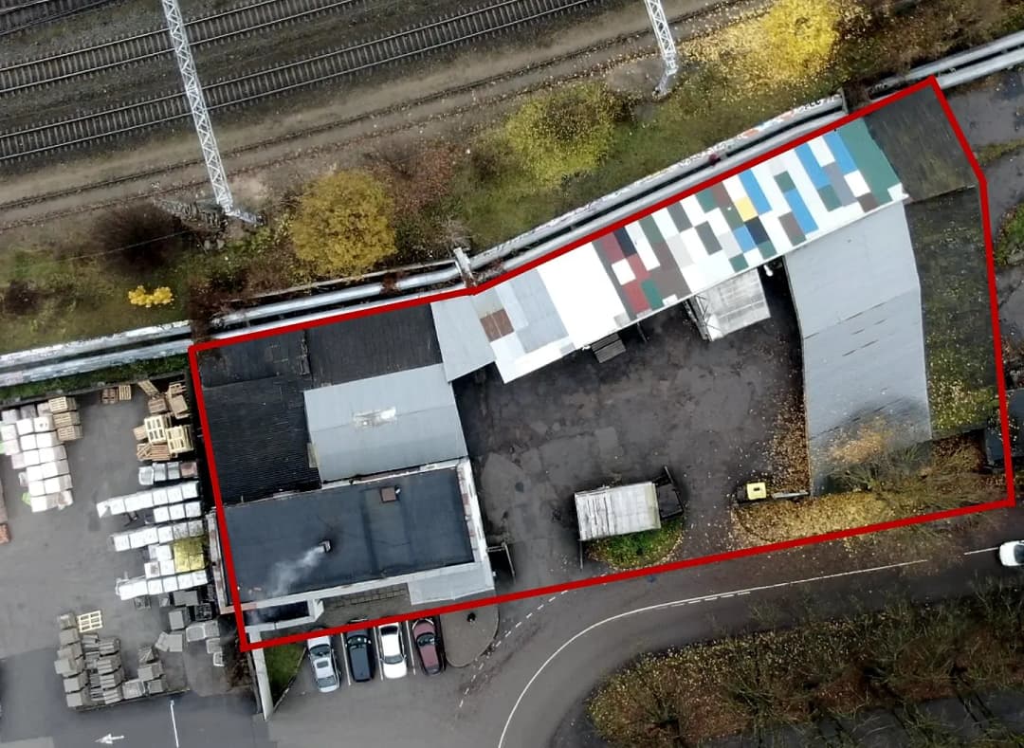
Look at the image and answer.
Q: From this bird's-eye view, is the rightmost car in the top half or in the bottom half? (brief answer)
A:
bottom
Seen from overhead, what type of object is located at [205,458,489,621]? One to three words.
building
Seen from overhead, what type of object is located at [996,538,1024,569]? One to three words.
car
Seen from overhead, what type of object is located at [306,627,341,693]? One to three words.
car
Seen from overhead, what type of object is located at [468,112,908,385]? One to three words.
shed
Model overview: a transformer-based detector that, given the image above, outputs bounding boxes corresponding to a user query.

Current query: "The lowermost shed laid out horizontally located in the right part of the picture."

[574,482,684,541]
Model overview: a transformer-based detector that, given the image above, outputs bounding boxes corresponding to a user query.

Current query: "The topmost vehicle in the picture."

[738,482,768,502]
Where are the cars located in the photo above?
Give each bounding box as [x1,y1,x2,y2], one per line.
[376,615,408,682]
[996,538,1024,569]
[306,627,341,693]
[341,620,375,686]
[410,616,445,680]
